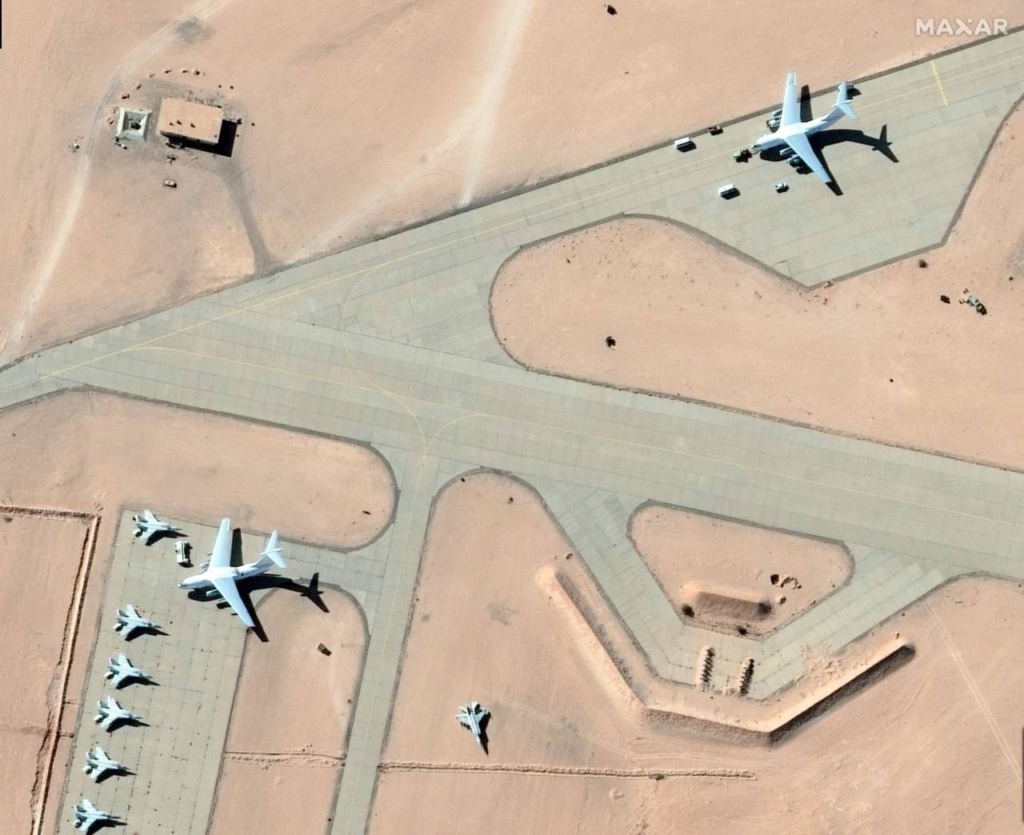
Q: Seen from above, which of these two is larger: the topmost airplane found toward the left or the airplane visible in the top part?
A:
the airplane visible in the top part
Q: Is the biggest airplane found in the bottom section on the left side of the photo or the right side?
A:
left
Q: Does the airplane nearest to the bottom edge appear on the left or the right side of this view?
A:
left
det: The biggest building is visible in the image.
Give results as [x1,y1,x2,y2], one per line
[158,98,224,146]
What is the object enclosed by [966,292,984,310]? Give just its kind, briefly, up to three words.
vehicle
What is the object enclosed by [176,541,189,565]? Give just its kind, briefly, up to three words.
vehicle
